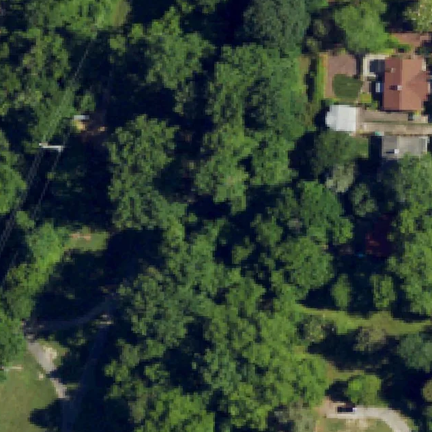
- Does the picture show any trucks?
No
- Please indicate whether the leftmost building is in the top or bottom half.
top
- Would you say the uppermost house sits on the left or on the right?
right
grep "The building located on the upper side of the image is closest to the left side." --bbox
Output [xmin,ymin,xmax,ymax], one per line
[325,105,358,130]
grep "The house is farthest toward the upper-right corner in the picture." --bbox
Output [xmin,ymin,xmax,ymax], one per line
[384,58,431,110]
